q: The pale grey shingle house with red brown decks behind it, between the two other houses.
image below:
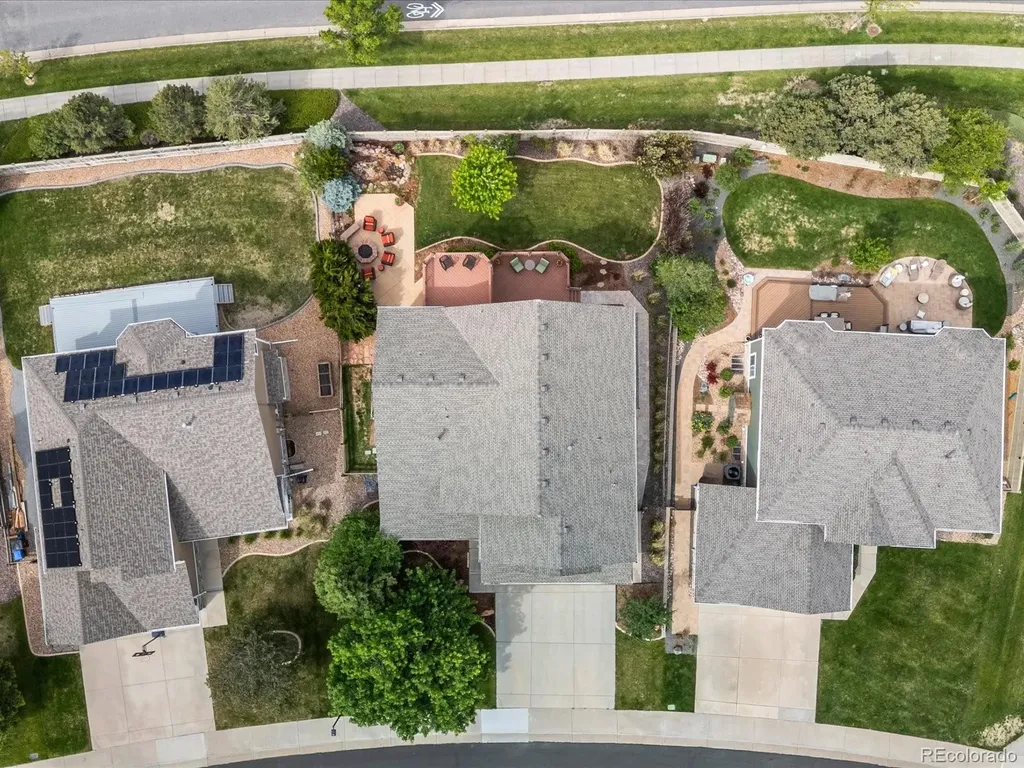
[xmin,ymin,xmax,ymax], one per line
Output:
[373,299,639,586]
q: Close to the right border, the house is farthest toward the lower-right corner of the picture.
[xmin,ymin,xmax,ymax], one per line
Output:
[688,318,1007,616]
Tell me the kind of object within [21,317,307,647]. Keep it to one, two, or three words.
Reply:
house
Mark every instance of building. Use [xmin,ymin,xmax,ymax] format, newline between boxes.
[688,318,1007,616]
[373,299,639,586]
[21,317,307,647]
